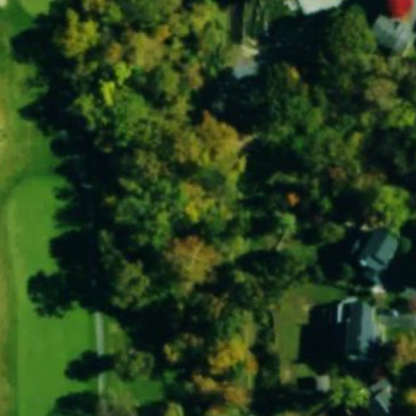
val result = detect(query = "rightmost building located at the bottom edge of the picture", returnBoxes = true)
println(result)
[362,384,403,416]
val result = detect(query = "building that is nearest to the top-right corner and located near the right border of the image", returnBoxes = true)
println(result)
[373,12,416,55]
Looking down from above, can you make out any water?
No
